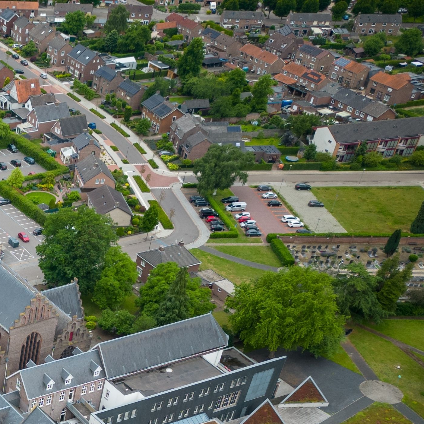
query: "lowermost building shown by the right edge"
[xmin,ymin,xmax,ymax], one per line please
[312,114,424,163]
